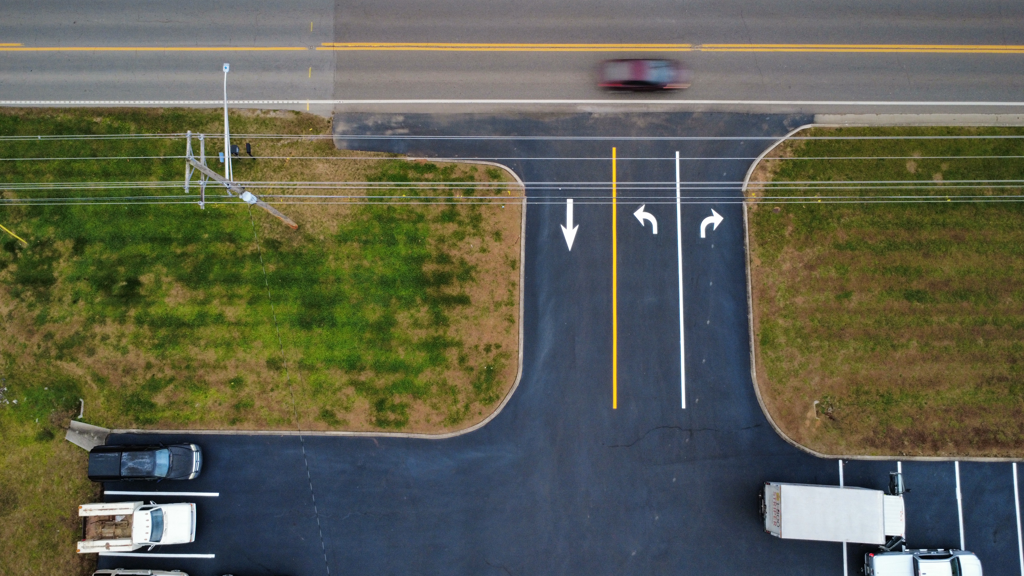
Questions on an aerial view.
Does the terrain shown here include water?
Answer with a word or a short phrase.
No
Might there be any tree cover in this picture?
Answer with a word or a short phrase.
No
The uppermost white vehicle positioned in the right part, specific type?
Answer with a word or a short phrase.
truck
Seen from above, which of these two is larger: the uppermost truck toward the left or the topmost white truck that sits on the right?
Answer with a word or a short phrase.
the topmost white truck that sits on the right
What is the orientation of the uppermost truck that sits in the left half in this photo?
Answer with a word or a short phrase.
from left to right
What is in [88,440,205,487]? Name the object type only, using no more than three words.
truck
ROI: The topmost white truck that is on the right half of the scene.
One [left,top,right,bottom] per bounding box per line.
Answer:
[752,472,908,553]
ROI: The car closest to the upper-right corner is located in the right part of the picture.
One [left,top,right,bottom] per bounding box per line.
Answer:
[605,54,684,93]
